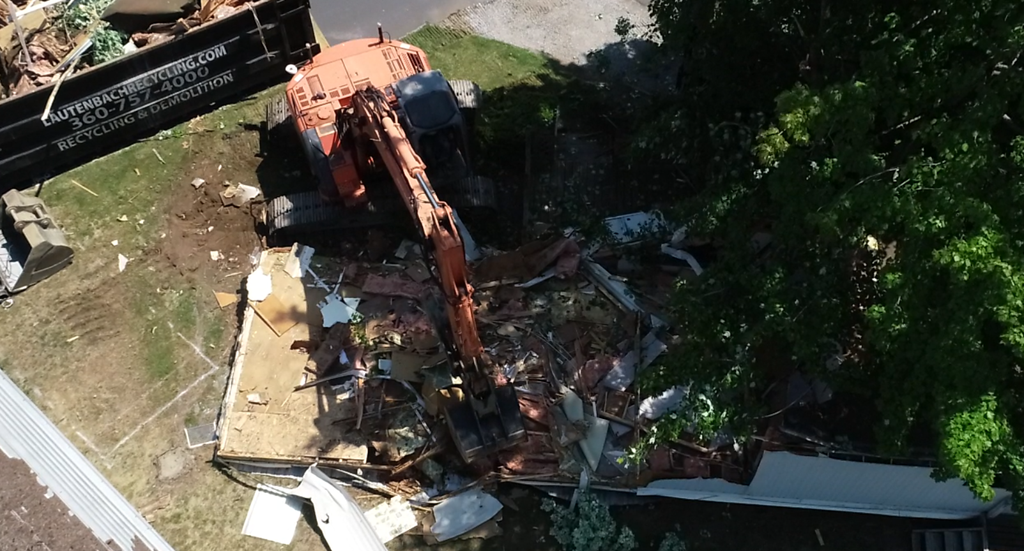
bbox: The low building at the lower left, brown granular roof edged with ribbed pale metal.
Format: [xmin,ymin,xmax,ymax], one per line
[0,368,171,551]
